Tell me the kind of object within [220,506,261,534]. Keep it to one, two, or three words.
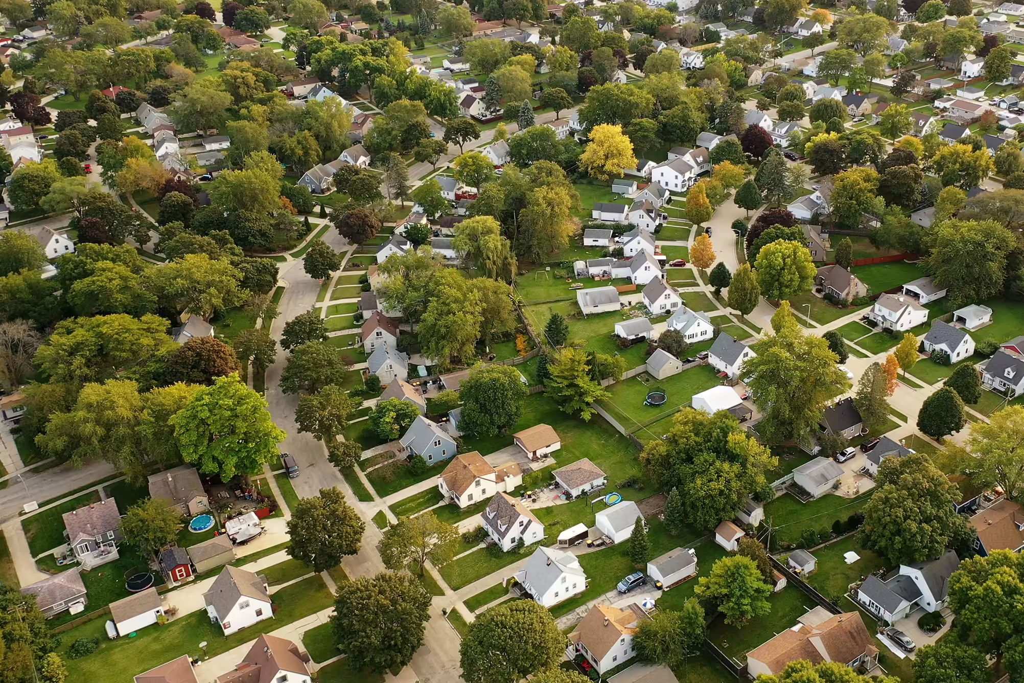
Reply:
camper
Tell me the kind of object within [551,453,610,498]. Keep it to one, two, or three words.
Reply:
building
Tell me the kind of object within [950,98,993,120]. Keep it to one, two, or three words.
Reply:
house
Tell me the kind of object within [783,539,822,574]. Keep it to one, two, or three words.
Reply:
shed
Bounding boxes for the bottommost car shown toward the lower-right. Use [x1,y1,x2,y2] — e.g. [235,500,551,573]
[884,628,918,653]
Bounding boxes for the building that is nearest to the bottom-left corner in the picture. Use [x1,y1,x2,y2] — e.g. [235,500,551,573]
[33,557,88,614]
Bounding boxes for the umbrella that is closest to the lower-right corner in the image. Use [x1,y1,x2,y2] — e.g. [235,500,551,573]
[640,594,658,609]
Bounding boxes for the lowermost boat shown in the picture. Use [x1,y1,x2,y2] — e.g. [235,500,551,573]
[102,613,117,641]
